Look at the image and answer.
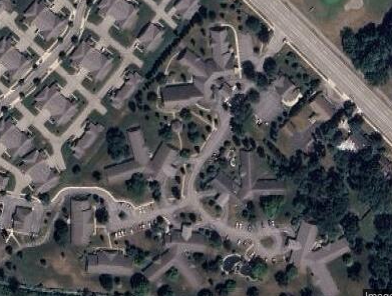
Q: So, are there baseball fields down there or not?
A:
No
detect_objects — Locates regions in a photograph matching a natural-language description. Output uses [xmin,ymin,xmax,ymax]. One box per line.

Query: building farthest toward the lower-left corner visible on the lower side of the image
[12,206,34,235]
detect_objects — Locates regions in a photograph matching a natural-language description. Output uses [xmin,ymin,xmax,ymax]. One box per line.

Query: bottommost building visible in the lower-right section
[285,215,353,296]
